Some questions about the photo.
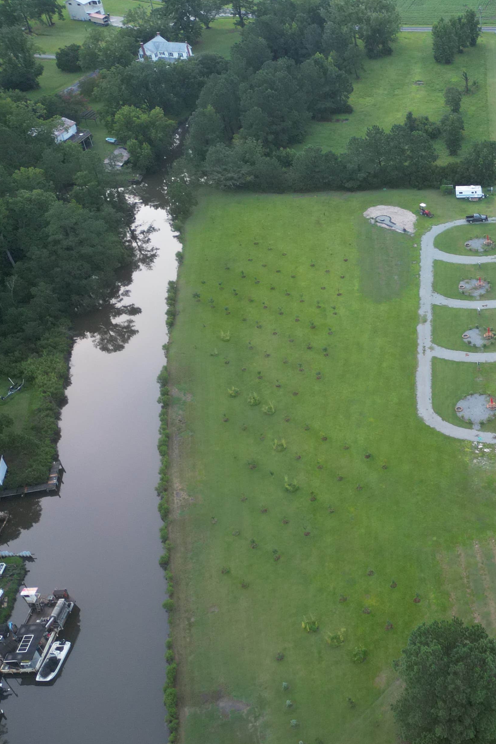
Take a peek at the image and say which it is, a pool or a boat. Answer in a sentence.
Visible in the photo is a boat.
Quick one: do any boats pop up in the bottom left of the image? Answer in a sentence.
Yes, a boat is visible in the bottom left of the image.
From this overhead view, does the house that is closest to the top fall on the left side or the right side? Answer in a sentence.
The house that is closest to the top is on the left side of the image.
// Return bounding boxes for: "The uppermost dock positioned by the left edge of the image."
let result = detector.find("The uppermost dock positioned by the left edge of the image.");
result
[0,456,63,504]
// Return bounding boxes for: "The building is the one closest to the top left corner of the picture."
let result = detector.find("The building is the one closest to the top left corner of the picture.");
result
[65,0,106,21]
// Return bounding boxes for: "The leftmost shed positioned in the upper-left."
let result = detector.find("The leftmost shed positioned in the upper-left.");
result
[34,118,80,145]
